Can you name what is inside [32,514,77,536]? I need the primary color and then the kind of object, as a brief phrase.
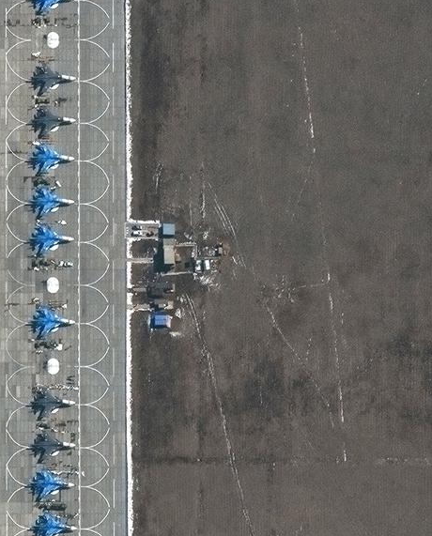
blue airplane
